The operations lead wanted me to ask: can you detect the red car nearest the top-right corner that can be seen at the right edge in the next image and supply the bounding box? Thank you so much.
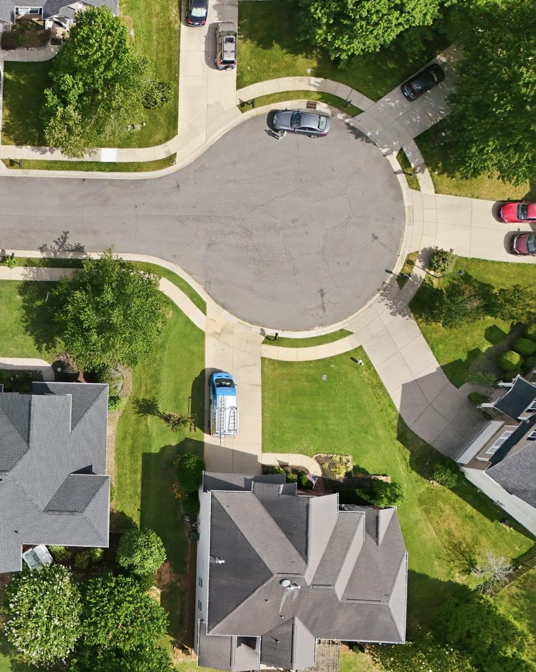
[495,200,536,224]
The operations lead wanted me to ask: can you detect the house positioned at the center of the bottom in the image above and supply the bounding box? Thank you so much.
[192,471,408,671]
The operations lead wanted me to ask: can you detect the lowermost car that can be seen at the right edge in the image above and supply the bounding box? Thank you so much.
[507,232,536,257]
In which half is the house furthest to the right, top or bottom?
bottom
